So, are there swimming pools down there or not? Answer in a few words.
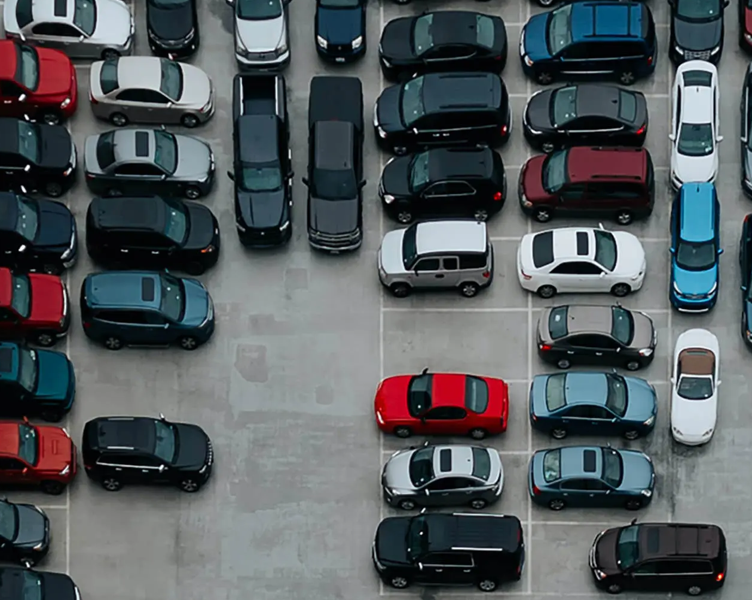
No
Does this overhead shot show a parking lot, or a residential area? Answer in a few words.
parking lot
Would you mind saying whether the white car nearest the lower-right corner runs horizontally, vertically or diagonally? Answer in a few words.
vertically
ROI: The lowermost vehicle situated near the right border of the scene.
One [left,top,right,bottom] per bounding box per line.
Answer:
[591,523,729,596]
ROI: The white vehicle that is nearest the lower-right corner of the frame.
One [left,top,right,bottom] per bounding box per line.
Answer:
[670,329,723,442]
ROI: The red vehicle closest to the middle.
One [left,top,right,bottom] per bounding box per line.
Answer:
[374,370,508,440]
